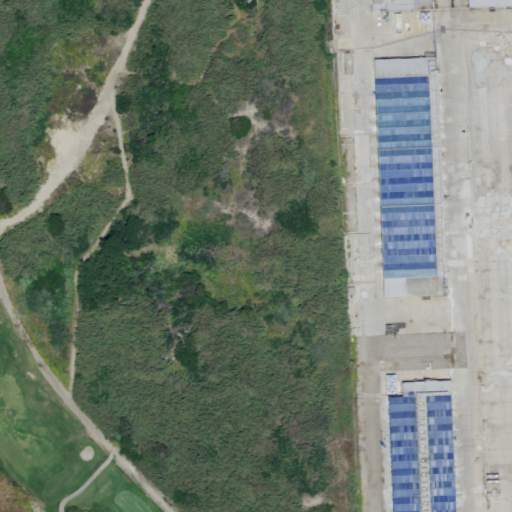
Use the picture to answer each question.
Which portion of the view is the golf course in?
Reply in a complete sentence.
The golf course is in the bottom left part of the image.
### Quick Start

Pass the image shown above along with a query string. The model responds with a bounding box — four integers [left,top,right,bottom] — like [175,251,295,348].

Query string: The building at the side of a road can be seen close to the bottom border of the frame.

[388,378,456,512]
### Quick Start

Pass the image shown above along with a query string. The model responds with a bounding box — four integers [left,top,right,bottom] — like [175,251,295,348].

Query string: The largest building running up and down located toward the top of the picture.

[374,58,446,296]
